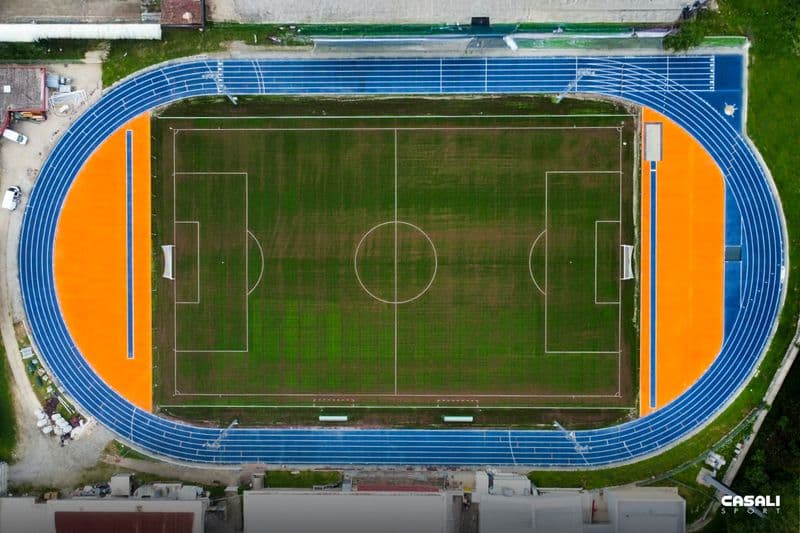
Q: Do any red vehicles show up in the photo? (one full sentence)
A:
No, I find no red vehicle anywhere in the image.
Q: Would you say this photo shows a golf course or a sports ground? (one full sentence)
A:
This looks like a sports ground.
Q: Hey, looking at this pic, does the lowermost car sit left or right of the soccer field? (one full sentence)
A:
Relative to the soccer field, the lowermost car lies to the left.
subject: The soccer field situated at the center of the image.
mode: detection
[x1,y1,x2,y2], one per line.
[173,127,621,406]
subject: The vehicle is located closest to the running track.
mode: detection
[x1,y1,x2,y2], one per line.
[2,187,23,211]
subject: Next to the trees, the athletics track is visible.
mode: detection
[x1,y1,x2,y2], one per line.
[18,55,784,465]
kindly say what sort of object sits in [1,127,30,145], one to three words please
vehicle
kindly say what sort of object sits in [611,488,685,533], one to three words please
building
